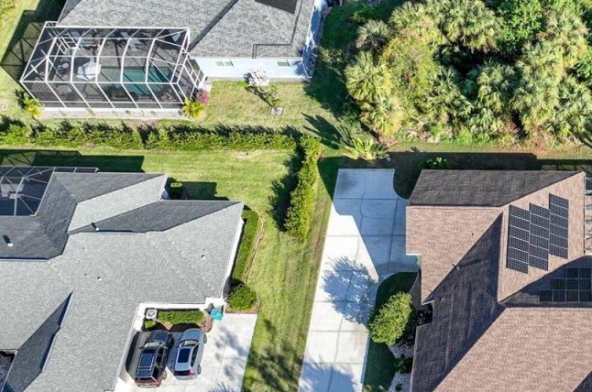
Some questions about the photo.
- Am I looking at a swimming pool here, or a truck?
swimming pool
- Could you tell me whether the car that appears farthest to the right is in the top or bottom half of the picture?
bottom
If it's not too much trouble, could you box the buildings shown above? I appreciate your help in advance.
[405,170,592,392]
[57,0,326,78]
[0,172,250,392]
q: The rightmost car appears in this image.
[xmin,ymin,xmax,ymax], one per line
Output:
[167,328,211,385]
